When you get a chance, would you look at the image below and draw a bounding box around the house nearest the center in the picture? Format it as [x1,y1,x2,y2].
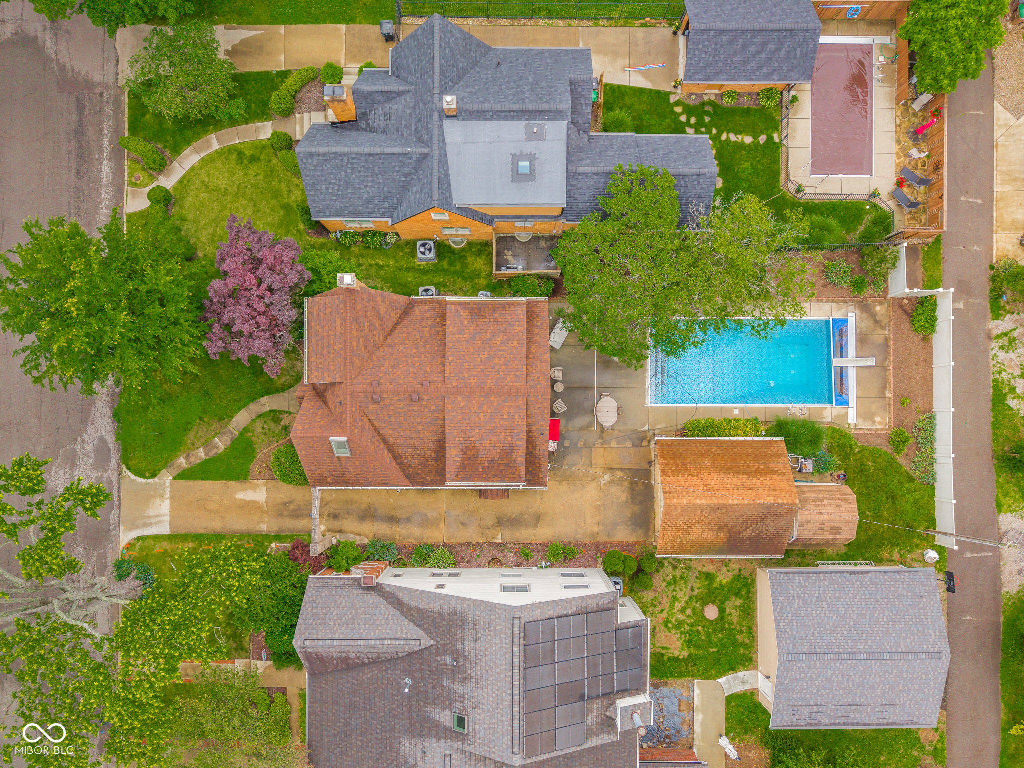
[294,273,553,499]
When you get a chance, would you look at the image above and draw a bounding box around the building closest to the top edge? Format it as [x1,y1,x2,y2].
[678,0,825,105]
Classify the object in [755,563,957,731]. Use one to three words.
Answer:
building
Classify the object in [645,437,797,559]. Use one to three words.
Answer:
building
